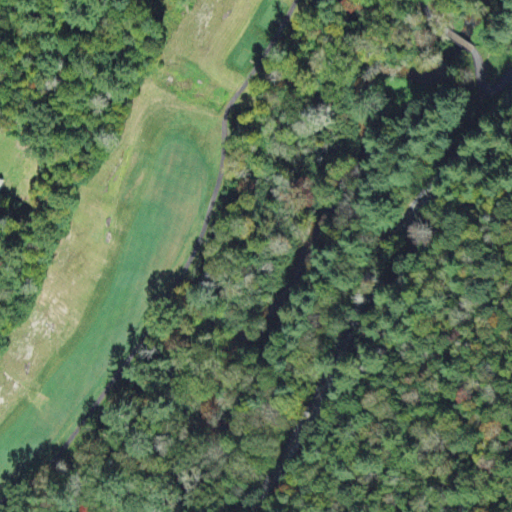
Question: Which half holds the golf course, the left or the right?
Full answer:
It is on the left.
